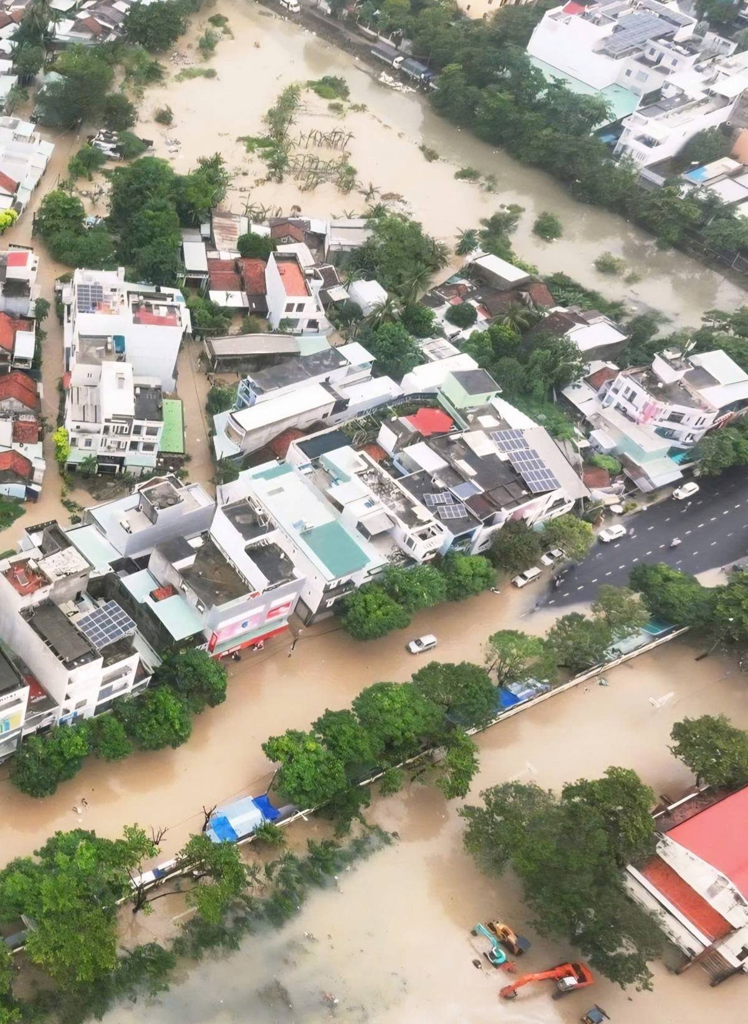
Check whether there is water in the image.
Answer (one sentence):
Yes, some water is visible.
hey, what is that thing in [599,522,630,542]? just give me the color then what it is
white car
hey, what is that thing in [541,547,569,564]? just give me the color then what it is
white vehicle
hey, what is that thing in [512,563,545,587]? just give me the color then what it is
white car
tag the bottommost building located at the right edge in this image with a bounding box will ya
[637,785,748,988]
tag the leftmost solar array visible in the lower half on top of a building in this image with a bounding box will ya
[75,600,137,651]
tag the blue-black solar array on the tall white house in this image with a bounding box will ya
[77,285,103,315]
